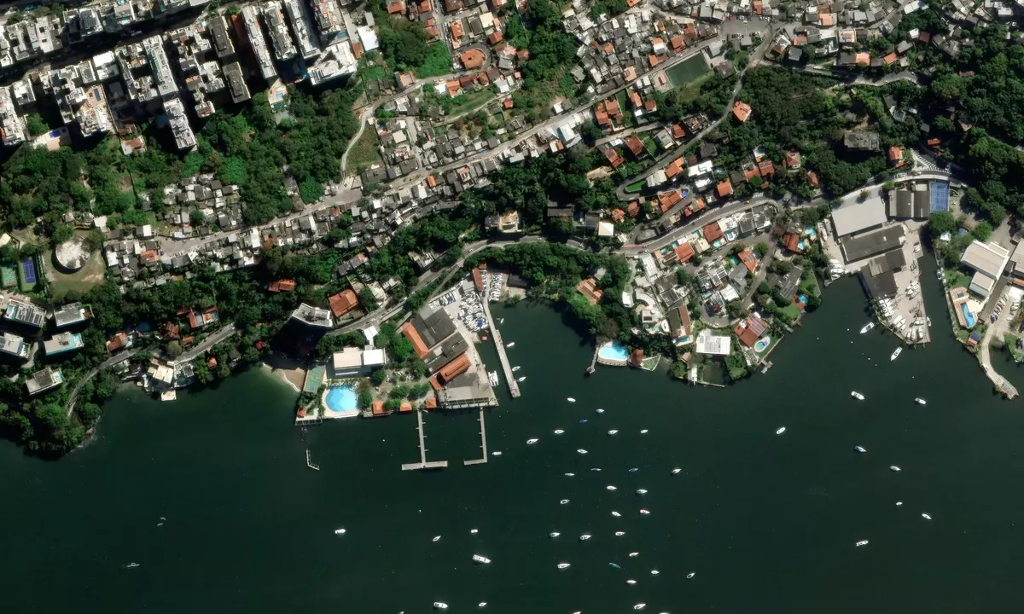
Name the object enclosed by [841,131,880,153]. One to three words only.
house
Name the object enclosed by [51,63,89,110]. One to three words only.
building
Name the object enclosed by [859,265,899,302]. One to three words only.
shed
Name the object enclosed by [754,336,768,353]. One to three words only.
swimming pool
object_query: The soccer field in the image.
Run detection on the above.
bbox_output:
[665,50,711,89]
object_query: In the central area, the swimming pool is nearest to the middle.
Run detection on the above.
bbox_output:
[597,342,629,366]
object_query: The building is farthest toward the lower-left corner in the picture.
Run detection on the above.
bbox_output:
[26,367,63,396]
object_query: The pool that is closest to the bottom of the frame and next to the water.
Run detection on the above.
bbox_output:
[322,381,359,419]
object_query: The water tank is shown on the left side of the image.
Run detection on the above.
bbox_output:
[56,238,91,271]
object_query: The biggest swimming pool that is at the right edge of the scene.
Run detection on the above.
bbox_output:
[950,288,981,328]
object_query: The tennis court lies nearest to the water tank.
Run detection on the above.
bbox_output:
[18,256,40,292]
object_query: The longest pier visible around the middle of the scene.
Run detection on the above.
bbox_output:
[483,297,520,397]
